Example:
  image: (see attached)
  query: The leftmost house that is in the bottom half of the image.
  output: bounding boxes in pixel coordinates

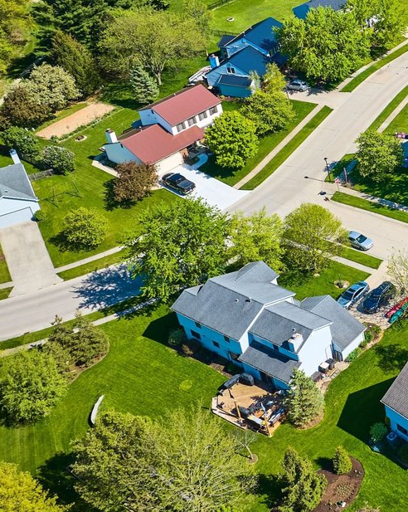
[169,262,368,395]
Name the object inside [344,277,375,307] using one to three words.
car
